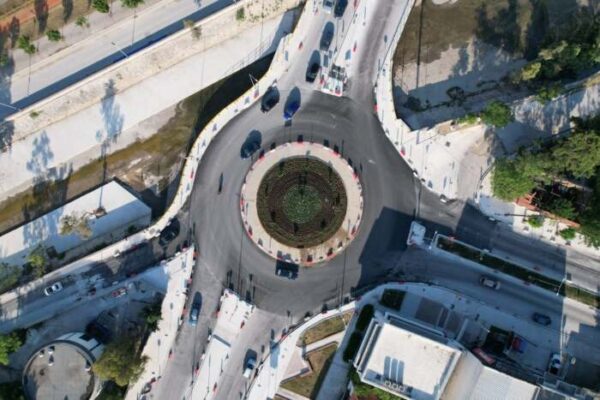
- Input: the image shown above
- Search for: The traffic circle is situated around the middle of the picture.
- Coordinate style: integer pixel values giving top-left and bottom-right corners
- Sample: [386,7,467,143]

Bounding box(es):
[193,94,411,312]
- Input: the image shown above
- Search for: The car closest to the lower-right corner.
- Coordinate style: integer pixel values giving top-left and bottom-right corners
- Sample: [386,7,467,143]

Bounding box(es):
[548,351,561,374]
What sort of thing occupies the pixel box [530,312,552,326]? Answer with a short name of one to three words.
car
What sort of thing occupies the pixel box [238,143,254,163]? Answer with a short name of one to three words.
car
